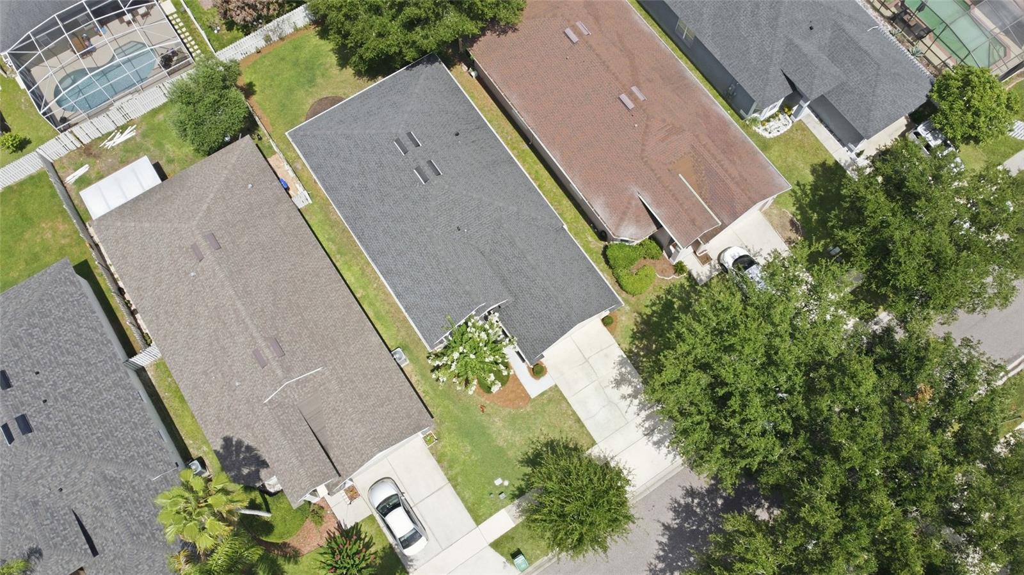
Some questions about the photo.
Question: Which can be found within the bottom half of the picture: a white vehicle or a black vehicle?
white vehicle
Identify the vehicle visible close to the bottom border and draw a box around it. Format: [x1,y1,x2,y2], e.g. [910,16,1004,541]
[366,475,431,564]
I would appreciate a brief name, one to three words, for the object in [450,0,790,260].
house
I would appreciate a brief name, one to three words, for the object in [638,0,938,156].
house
